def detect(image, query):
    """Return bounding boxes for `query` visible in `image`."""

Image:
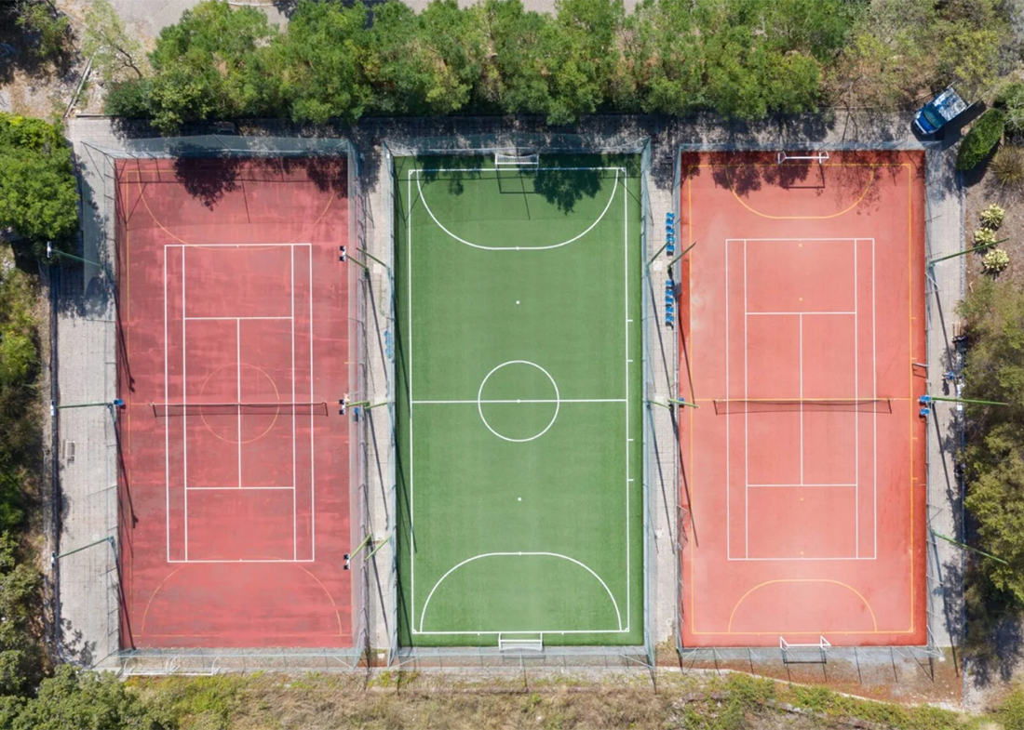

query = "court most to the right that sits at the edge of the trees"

[680,151,928,647]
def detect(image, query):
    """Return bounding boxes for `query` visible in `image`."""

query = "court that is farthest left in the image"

[115,155,352,649]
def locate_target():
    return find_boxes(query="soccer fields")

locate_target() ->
[394,155,644,648]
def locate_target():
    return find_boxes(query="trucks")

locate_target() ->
[909,100,951,136]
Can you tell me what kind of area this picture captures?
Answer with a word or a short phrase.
sports ground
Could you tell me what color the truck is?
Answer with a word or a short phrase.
blue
